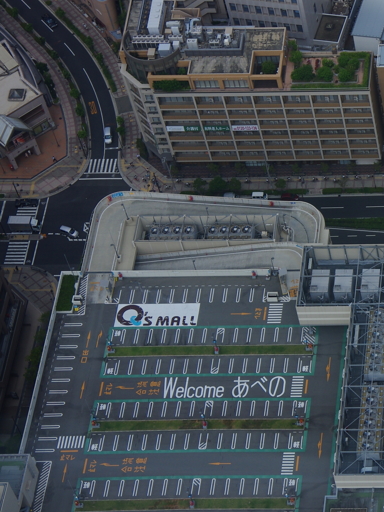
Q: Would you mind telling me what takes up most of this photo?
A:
buildings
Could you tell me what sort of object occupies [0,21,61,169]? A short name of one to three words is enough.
building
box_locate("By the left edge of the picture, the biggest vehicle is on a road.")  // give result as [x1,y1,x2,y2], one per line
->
[4,213,42,231]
